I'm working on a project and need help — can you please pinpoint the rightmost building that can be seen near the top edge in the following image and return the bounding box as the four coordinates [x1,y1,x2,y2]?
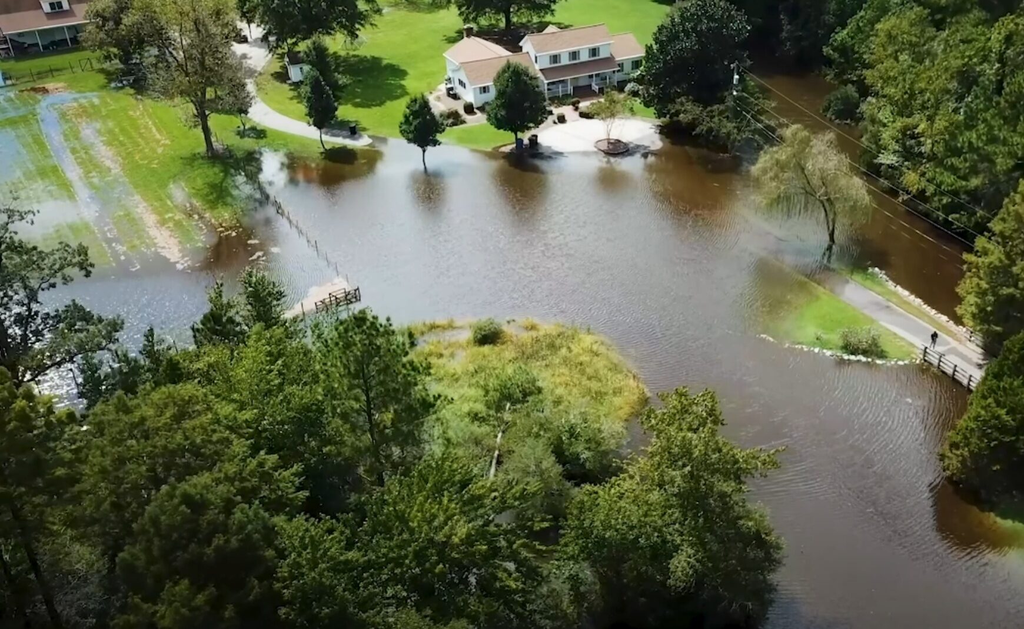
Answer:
[437,20,648,106]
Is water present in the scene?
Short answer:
Yes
